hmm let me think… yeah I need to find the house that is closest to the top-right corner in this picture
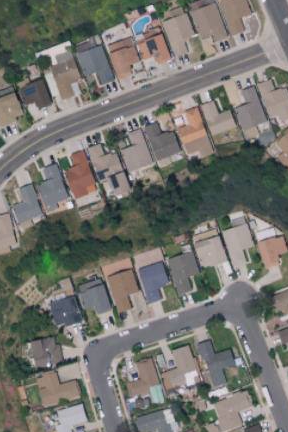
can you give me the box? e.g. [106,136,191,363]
[221,0,250,35]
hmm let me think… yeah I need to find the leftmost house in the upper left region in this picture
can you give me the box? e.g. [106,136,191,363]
[0,86,22,126]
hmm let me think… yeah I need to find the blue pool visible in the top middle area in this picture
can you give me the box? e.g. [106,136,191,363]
[132,16,152,36]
